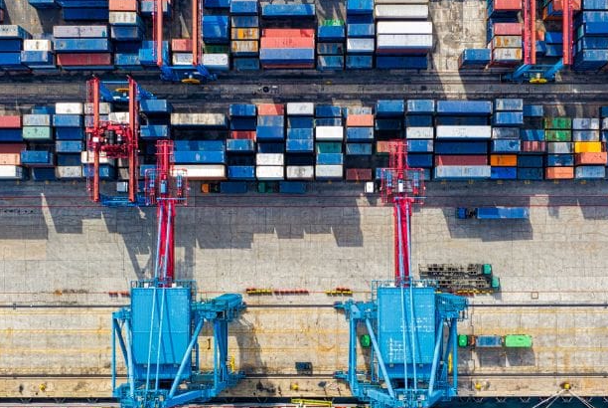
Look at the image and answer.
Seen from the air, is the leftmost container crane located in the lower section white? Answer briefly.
No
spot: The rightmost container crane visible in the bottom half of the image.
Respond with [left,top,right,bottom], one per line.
[334,140,462,408]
